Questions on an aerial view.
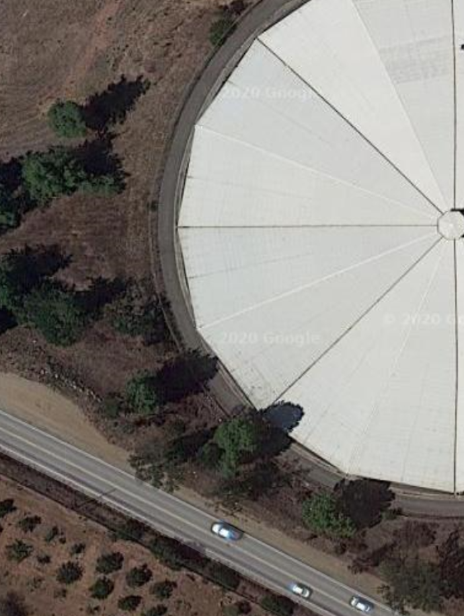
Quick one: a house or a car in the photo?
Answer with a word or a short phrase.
car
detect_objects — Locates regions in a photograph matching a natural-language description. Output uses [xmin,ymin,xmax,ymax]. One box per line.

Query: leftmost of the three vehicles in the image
[215,523,239,540]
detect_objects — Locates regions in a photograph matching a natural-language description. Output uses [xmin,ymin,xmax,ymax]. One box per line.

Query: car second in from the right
[289,581,312,598]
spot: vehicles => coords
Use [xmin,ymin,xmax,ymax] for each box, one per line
[350,595,373,611]
[215,523,239,540]
[289,581,312,598]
